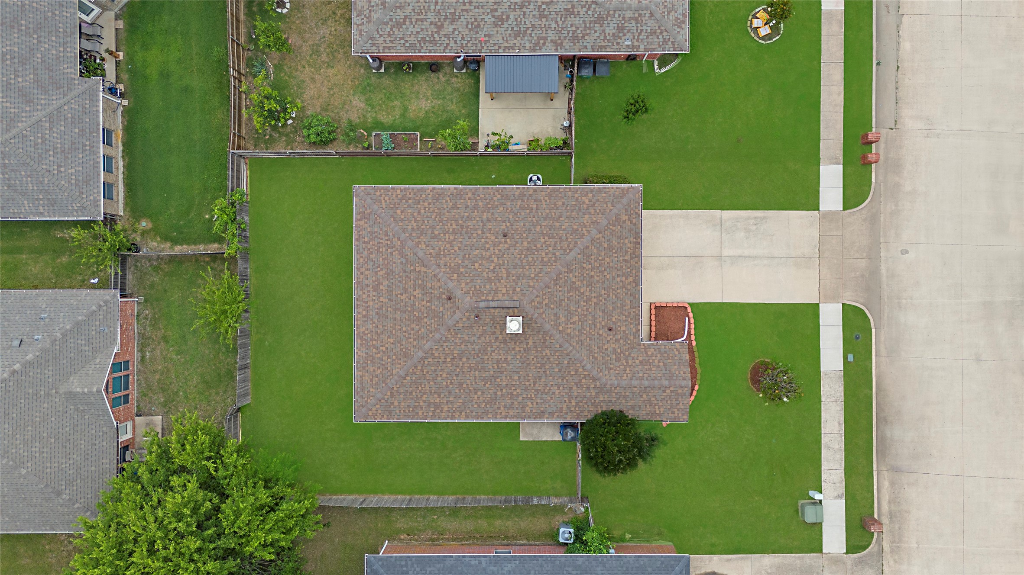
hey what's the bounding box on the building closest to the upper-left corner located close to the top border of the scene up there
[0,0,134,220]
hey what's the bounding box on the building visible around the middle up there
[353,185,693,422]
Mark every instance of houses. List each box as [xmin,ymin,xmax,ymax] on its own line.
[365,539,690,575]
[0,289,149,534]
[353,185,693,422]
[352,0,689,64]
[0,0,134,220]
